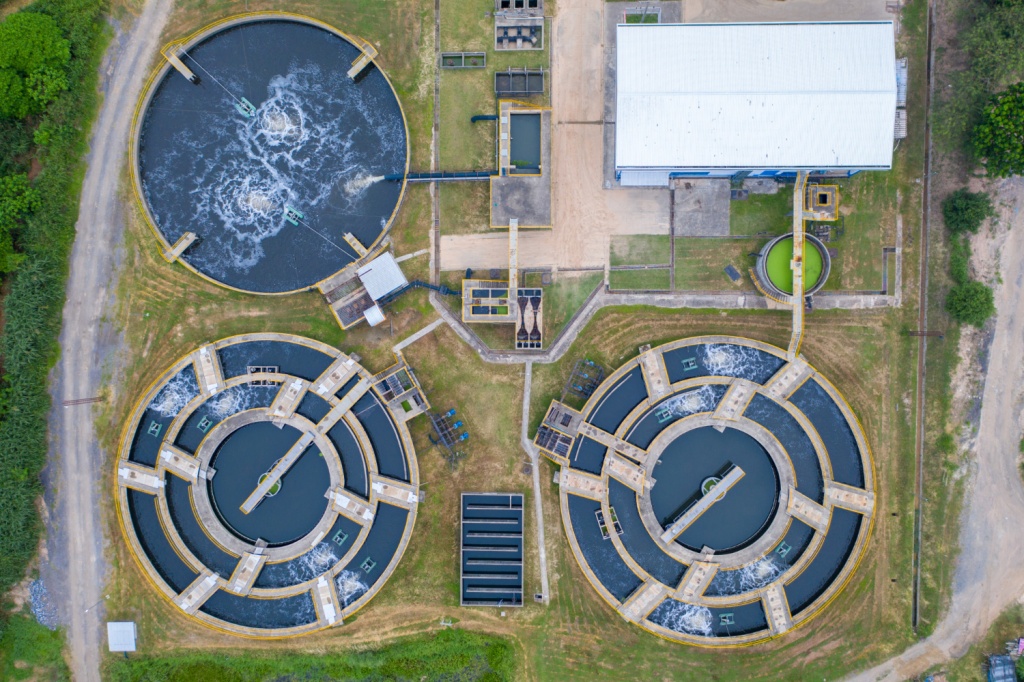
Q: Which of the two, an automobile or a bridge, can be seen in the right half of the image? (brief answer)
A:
bridge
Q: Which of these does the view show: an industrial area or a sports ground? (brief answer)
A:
industrial area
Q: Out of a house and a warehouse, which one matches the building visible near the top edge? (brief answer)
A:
warehouse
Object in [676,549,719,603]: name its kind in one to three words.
bridge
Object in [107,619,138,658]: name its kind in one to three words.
shed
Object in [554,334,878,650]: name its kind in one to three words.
water tank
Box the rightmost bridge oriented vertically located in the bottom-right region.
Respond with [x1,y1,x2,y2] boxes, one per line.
[761,585,794,638]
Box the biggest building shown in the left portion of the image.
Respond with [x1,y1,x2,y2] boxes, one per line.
[314,240,409,328]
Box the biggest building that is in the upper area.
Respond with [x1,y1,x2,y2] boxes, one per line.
[615,23,897,193]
